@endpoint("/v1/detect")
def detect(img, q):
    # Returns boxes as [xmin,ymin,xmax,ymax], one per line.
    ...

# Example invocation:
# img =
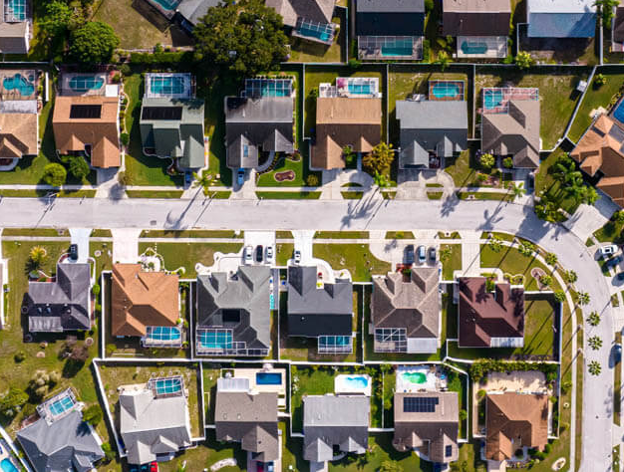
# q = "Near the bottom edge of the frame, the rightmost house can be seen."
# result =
[486,392,548,465]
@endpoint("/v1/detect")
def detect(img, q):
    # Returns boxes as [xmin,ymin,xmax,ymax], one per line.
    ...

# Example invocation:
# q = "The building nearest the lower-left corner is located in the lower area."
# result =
[15,409,104,472]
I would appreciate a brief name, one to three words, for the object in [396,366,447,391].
swimming pool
